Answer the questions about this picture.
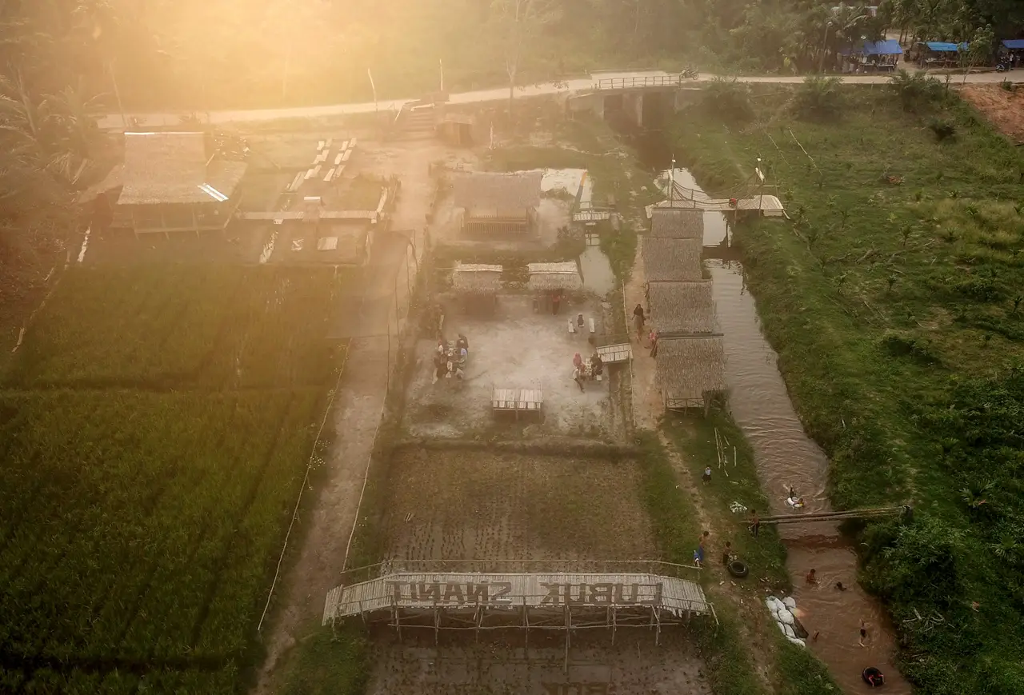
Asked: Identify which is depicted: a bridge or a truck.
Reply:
bridge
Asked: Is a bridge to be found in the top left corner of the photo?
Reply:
No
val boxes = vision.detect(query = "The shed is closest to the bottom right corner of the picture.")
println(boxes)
[640,330,727,414]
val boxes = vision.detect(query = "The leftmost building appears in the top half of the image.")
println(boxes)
[77,131,249,243]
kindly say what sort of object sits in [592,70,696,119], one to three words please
bridge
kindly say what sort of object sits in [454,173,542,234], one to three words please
building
